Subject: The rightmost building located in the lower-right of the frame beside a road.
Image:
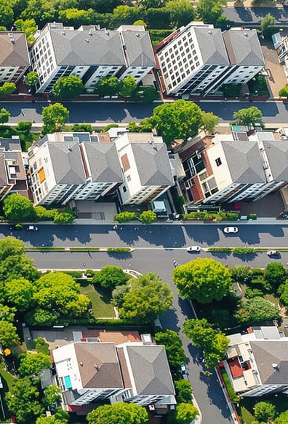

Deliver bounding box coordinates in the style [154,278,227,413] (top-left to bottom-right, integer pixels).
[214,328,288,392]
